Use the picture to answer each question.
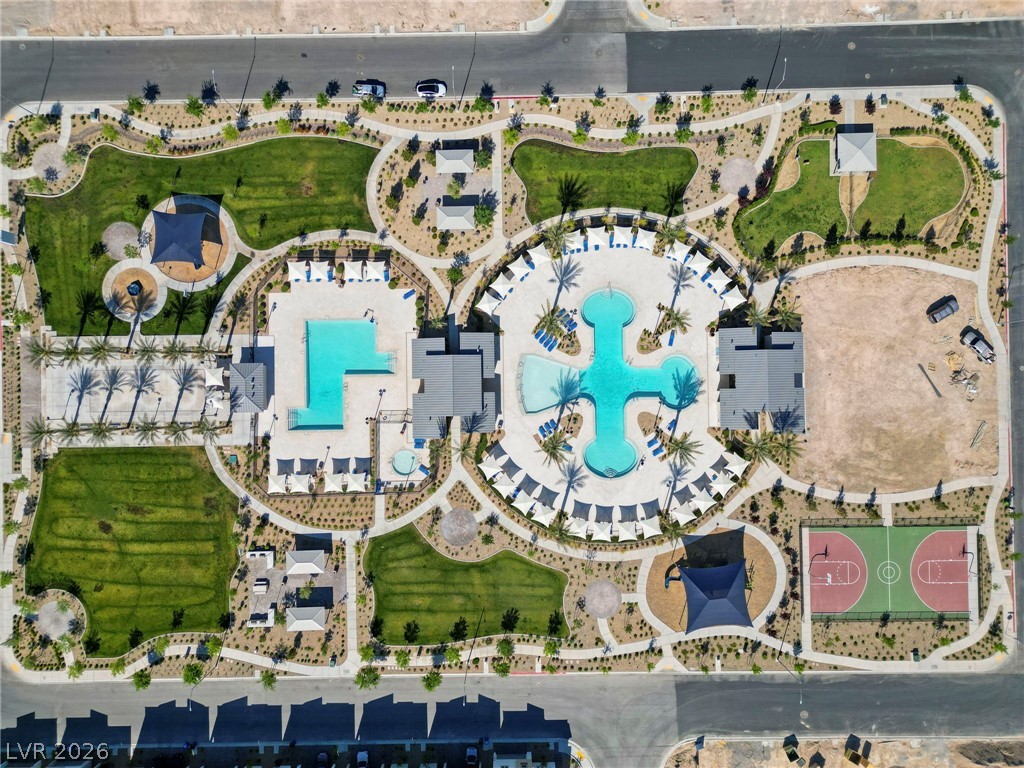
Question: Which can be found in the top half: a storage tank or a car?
car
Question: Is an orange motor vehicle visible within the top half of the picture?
No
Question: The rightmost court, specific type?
basketball court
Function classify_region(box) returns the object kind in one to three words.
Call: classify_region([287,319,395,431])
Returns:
swimming pool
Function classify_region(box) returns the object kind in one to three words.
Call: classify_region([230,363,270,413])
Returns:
building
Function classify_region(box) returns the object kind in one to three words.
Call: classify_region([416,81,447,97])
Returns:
car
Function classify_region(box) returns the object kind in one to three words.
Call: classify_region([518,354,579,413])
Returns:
swimming pool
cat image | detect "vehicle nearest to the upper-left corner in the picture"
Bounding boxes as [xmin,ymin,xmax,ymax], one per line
[350,81,386,98]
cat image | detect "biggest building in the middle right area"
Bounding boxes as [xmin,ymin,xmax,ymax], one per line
[714,328,806,434]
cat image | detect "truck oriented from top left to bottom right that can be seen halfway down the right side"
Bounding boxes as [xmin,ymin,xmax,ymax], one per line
[960,330,998,364]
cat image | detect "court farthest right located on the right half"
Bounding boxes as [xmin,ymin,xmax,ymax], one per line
[810,527,968,620]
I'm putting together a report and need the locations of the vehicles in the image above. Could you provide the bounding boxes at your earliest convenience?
[416,81,447,97]
[350,81,386,98]
[960,330,998,364]
[464,744,478,768]
[926,298,960,321]
[354,750,369,768]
